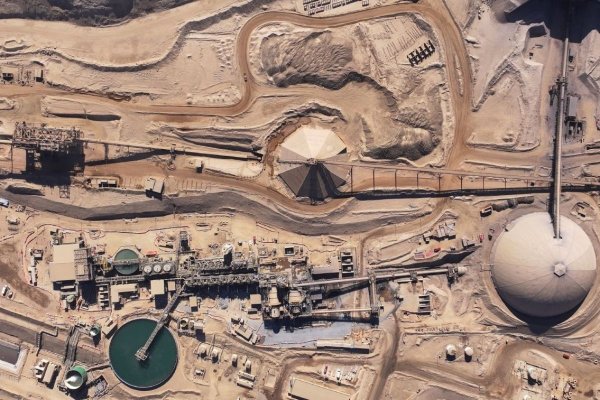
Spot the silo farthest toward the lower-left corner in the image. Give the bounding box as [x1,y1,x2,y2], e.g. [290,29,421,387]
[65,365,88,388]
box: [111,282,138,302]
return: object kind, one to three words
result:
building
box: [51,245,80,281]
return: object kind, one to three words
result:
building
